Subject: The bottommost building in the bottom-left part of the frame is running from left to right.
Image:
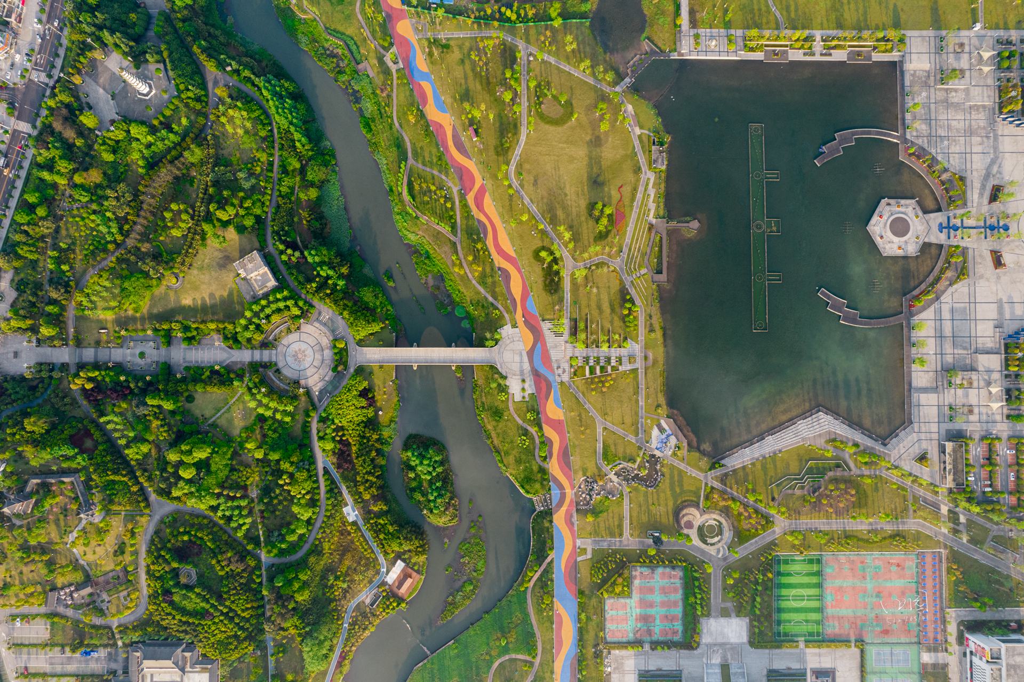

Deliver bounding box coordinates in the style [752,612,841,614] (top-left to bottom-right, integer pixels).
[108,634,221,682]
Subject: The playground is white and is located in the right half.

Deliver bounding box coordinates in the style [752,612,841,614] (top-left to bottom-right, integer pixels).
[651,419,678,456]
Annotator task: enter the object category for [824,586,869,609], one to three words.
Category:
basketball court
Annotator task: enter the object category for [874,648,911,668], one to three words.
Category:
tennis court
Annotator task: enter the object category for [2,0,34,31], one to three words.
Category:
building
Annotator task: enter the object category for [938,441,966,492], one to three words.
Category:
building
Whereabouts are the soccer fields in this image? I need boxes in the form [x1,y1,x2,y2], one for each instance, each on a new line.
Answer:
[773,554,824,641]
